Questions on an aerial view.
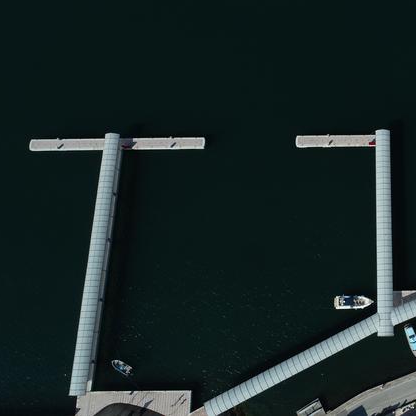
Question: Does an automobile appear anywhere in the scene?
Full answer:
No, no automobile is visible in the scene.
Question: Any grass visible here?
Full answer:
No, the scene doesn't show any grass.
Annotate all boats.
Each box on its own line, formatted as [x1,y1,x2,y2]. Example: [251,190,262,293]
[334,294,374,310]
[111,360,132,376]
[404,324,416,355]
